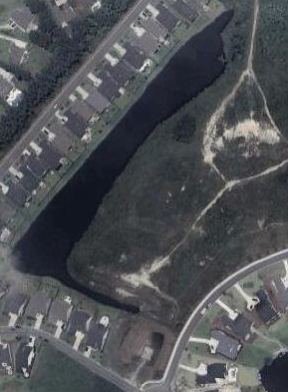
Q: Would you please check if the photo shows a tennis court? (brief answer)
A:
No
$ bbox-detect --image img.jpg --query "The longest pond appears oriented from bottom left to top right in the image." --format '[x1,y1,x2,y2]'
[14,12,233,313]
